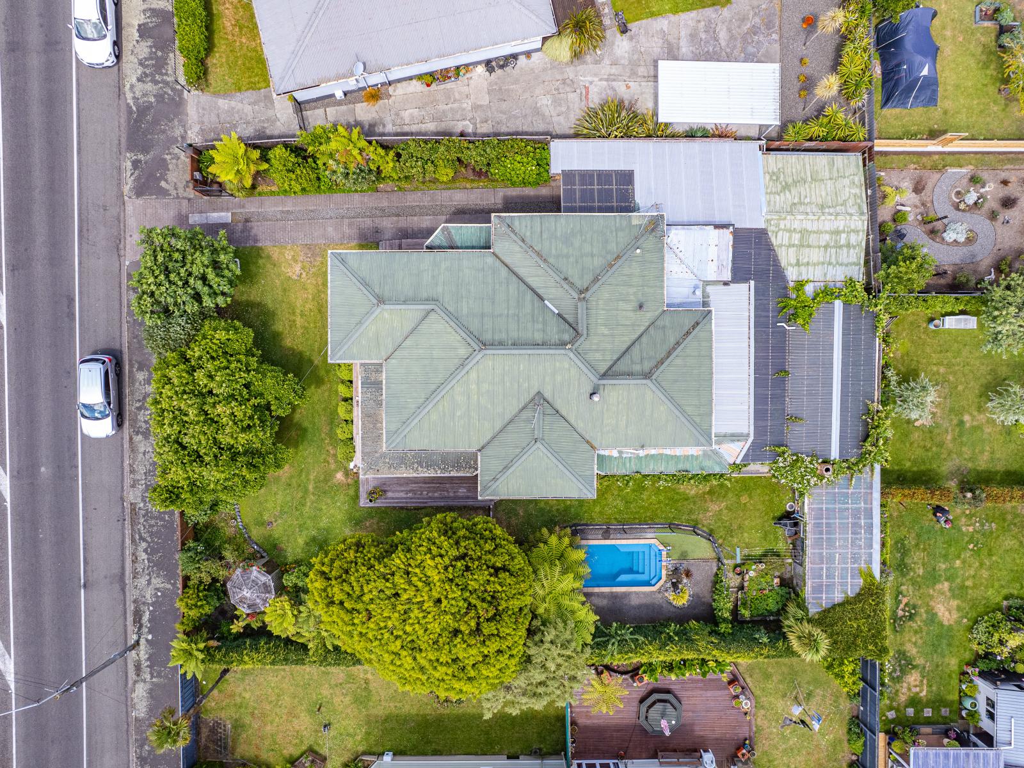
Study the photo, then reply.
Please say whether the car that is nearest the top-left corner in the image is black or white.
white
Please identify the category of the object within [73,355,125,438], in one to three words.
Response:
car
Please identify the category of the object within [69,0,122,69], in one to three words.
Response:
car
